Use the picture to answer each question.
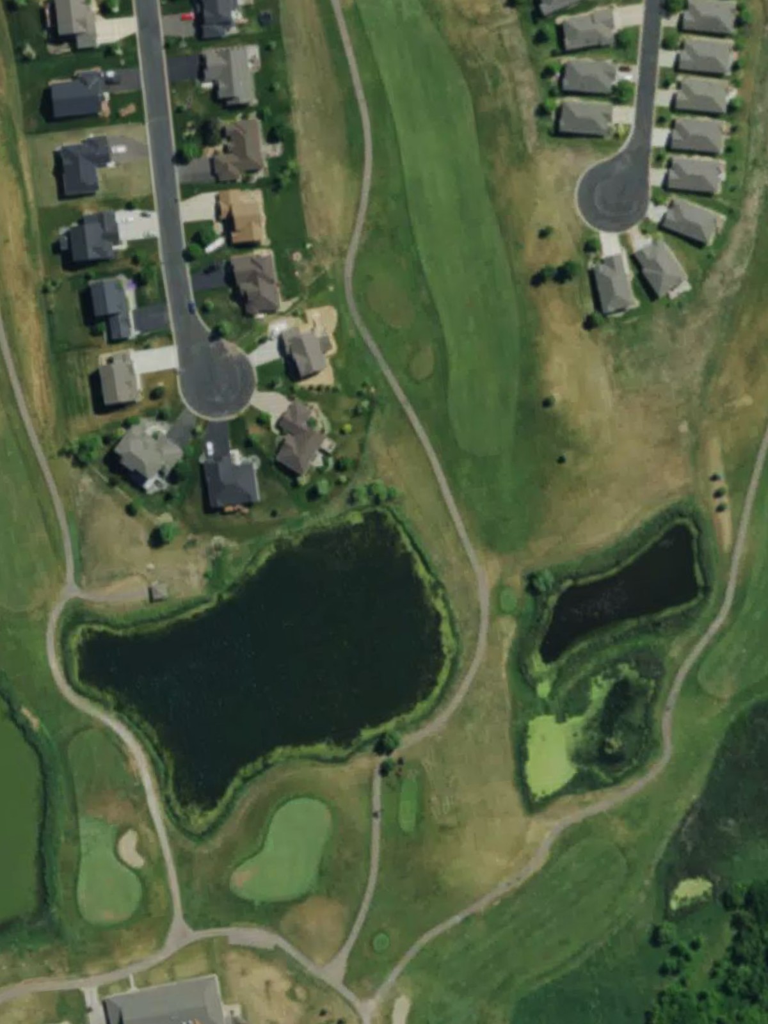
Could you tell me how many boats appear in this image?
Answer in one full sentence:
Not a single boat can be seen.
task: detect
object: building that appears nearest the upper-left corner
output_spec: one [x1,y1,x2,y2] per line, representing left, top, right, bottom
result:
[45,0,97,48]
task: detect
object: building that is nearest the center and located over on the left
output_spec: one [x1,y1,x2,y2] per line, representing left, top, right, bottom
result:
[273,395,335,480]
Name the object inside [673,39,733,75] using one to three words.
house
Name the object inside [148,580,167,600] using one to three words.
gazebo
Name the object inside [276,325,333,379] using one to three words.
house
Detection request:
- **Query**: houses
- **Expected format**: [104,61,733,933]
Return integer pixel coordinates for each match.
[87,279,131,341]
[226,253,280,314]
[273,395,335,480]
[61,134,112,196]
[276,325,333,379]
[204,452,258,507]
[662,158,720,192]
[112,417,185,496]
[677,0,736,33]
[200,0,247,37]
[98,347,138,407]
[214,188,264,245]
[201,47,255,104]
[58,210,119,262]
[561,61,617,93]
[49,70,104,117]
[658,197,723,246]
[561,11,618,51]
[631,237,688,302]
[558,102,615,135]
[45,0,97,48]
[209,119,264,183]
[591,250,633,315]
[673,39,733,75]
[669,79,729,115]
[666,119,725,153]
